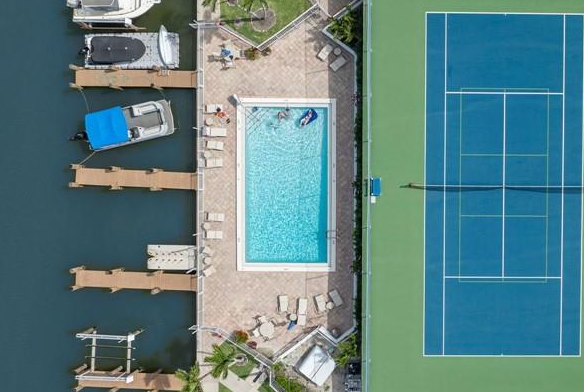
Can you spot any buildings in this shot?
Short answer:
No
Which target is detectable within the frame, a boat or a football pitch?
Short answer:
boat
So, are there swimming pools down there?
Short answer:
Yes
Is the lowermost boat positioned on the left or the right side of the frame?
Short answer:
left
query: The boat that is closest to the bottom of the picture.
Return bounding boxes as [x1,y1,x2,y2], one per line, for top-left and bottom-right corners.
[67,102,176,151]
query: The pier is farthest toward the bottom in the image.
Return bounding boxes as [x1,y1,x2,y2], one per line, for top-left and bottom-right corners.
[73,362,199,392]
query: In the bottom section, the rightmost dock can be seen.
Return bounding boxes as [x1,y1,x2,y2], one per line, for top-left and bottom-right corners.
[148,245,198,270]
